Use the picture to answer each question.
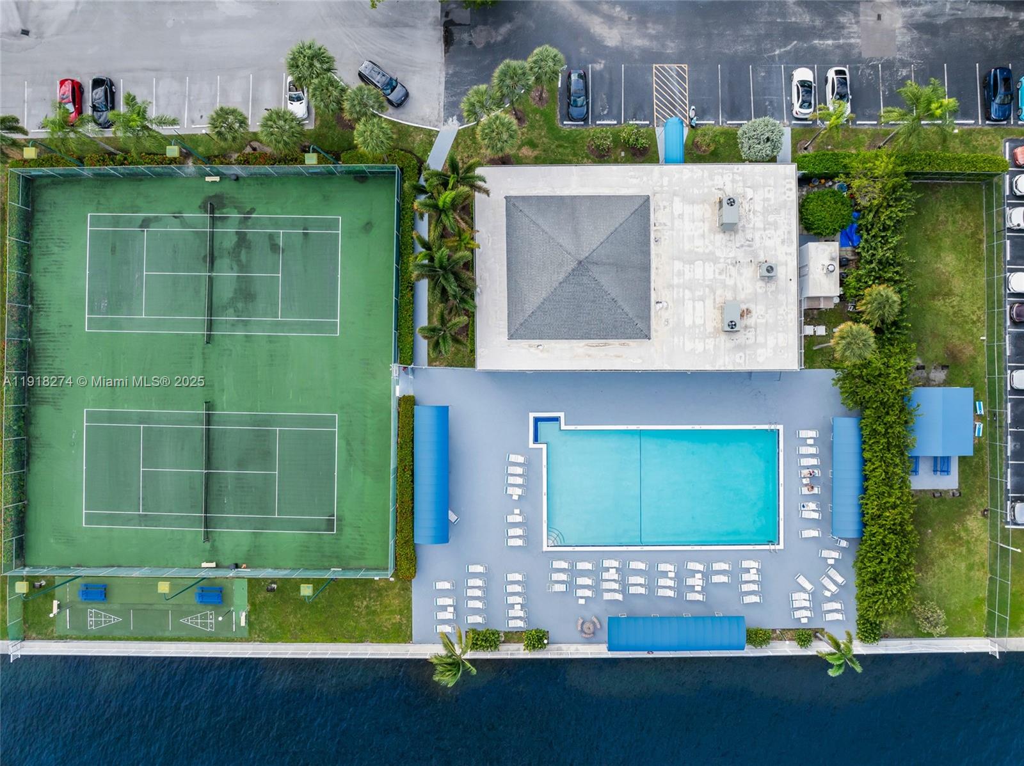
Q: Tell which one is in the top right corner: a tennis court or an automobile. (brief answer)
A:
automobile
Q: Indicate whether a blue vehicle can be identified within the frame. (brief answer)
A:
Yes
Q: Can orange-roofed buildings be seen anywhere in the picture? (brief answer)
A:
No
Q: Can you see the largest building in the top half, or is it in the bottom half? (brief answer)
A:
top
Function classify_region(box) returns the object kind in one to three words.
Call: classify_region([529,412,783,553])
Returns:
swimming pool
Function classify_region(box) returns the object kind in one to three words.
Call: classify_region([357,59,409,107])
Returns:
car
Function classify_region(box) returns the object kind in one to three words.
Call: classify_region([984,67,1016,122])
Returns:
car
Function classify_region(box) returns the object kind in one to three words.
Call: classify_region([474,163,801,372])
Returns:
building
